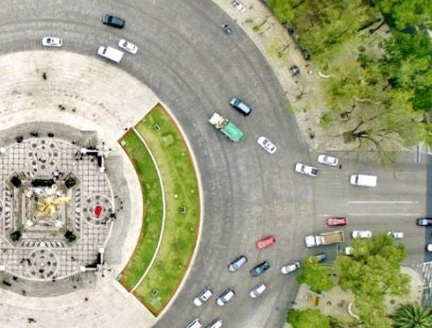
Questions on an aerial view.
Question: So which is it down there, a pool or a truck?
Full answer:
Of the two, only a truck appears.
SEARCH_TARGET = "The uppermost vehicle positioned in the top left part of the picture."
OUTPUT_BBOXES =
[102,14,125,27]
